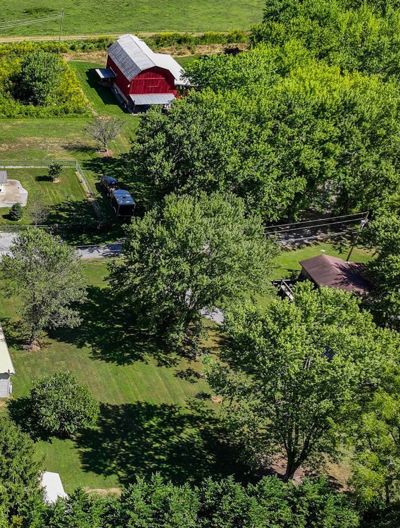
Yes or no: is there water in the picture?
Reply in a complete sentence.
No, the picture contains no water.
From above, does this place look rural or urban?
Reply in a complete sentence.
From above, the setting appears rural.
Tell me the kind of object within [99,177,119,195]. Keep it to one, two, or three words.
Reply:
vehicle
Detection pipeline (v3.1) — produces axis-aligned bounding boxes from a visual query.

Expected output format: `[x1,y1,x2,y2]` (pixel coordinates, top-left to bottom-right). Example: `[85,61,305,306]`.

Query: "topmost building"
[95,32,197,115]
